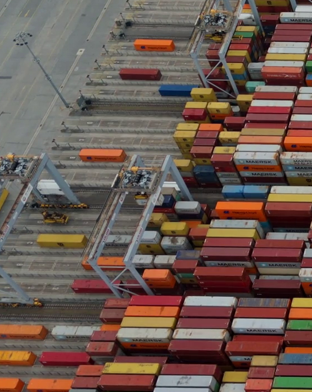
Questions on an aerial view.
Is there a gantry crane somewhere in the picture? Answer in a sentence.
Yes, the picture does show a gantry crane.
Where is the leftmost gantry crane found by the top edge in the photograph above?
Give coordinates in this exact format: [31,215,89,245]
[186,0,264,104]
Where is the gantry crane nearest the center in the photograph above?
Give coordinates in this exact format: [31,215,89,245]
[85,152,203,298]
